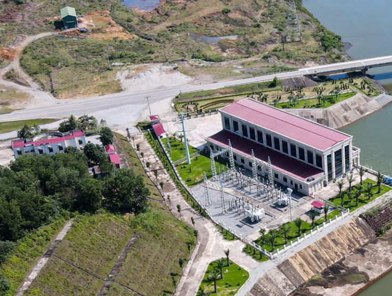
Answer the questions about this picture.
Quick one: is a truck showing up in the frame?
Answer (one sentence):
No, no truck can be seen from above.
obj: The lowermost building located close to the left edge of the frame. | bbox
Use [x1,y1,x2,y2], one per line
[9,120,86,158]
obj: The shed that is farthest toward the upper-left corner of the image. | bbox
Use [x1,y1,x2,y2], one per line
[57,4,80,27]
